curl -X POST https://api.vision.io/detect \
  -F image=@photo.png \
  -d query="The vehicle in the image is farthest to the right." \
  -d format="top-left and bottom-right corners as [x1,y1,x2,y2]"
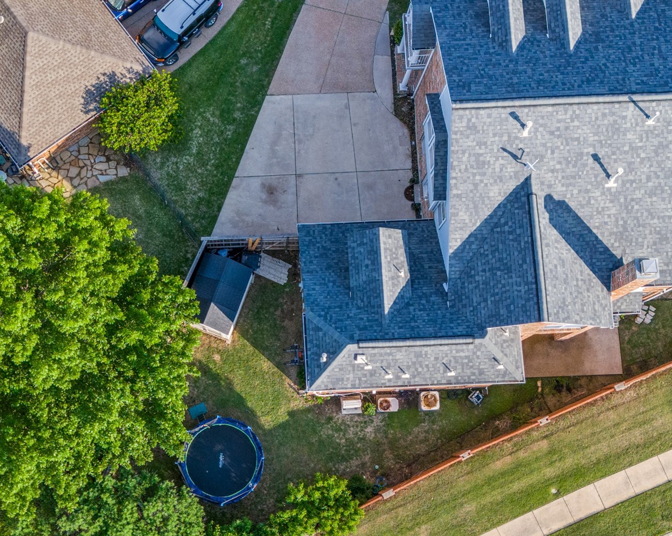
[136,0,225,69]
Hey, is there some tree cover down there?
Yes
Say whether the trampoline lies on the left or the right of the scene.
left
